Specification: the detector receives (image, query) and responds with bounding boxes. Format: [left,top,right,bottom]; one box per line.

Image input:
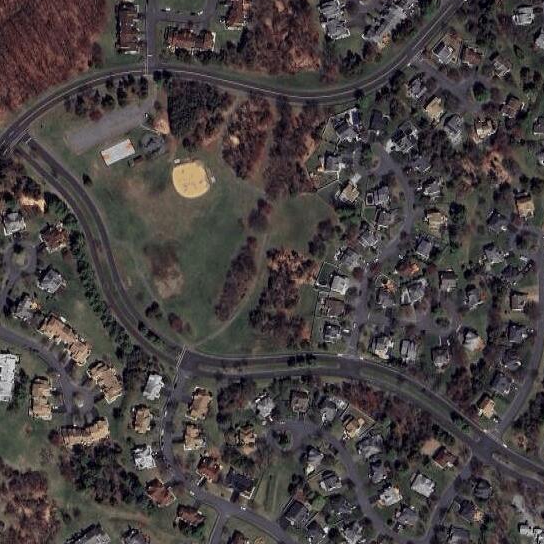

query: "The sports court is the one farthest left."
[101,139,135,166]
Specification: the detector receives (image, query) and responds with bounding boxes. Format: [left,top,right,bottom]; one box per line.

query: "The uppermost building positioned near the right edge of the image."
[511,5,535,25]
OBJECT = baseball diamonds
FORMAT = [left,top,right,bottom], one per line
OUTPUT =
[173,157,211,197]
